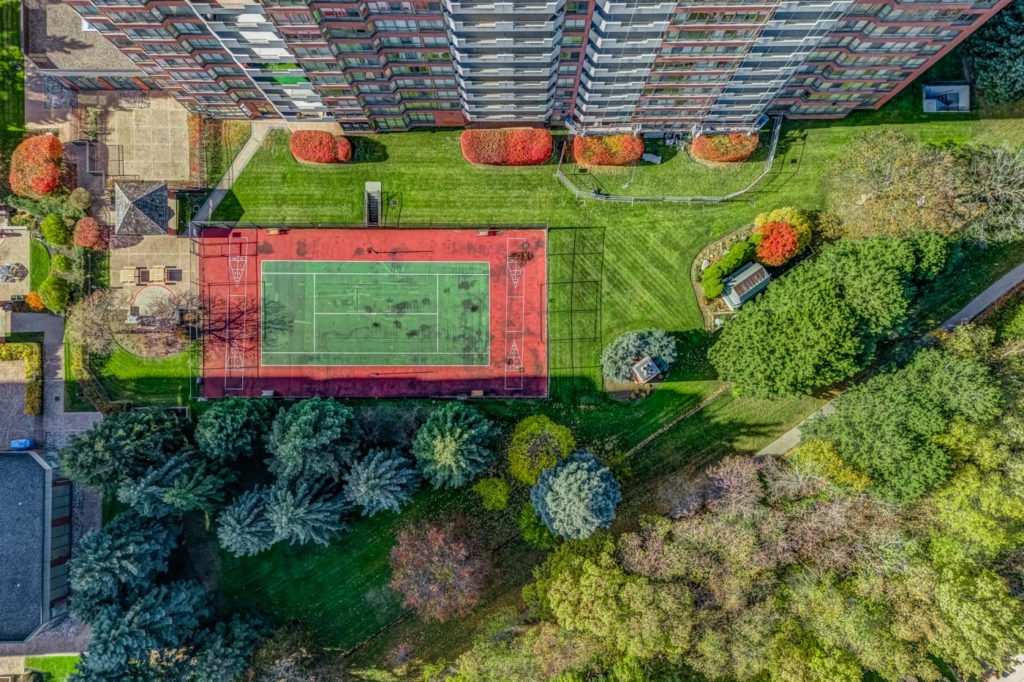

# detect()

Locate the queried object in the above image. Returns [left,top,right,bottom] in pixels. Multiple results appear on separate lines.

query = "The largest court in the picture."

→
[197,227,547,399]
